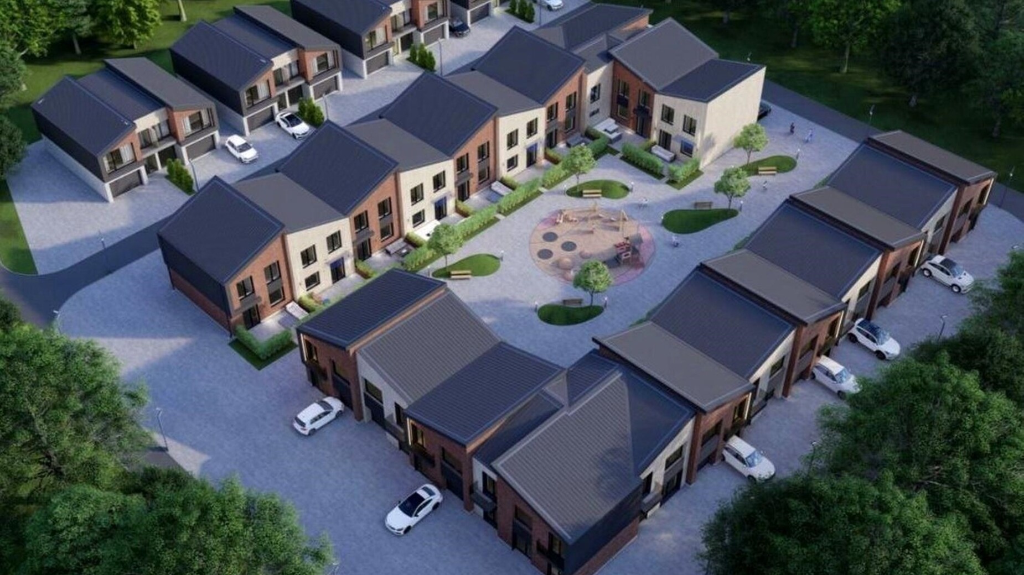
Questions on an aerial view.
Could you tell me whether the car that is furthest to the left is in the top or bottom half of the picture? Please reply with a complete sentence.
Seen from above, the car that is furthest to the left lies in the top half of the view.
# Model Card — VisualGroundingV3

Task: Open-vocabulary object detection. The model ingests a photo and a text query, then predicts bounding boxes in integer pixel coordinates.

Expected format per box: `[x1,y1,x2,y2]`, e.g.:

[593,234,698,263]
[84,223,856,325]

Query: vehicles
[754,101,777,123]
[721,437,780,484]
[446,14,476,38]
[272,109,313,137]
[382,486,445,537]
[220,130,260,162]
[850,319,906,361]
[922,255,977,294]
[811,357,866,397]
[287,398,344,438]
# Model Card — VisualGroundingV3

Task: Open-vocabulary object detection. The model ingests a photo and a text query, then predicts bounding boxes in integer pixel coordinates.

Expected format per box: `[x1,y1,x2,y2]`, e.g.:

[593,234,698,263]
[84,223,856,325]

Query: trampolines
[561,239,577,250]
[542,231,558,241]
[538,248,555,258]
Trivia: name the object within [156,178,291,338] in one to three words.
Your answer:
house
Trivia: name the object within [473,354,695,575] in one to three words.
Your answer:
house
